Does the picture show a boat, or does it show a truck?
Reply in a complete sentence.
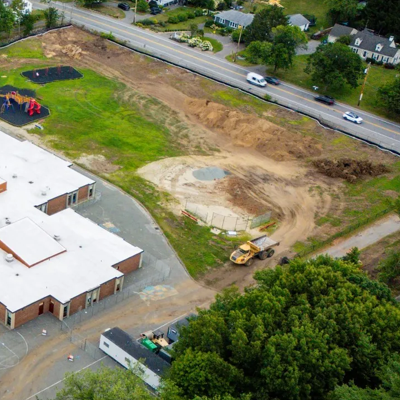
Looking from above, you can make out a truck.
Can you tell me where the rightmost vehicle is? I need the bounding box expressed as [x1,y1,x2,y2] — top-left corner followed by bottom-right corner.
[341,109,362,122]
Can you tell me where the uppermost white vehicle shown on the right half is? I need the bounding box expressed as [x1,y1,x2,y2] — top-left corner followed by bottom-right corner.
[244,69,267,86]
